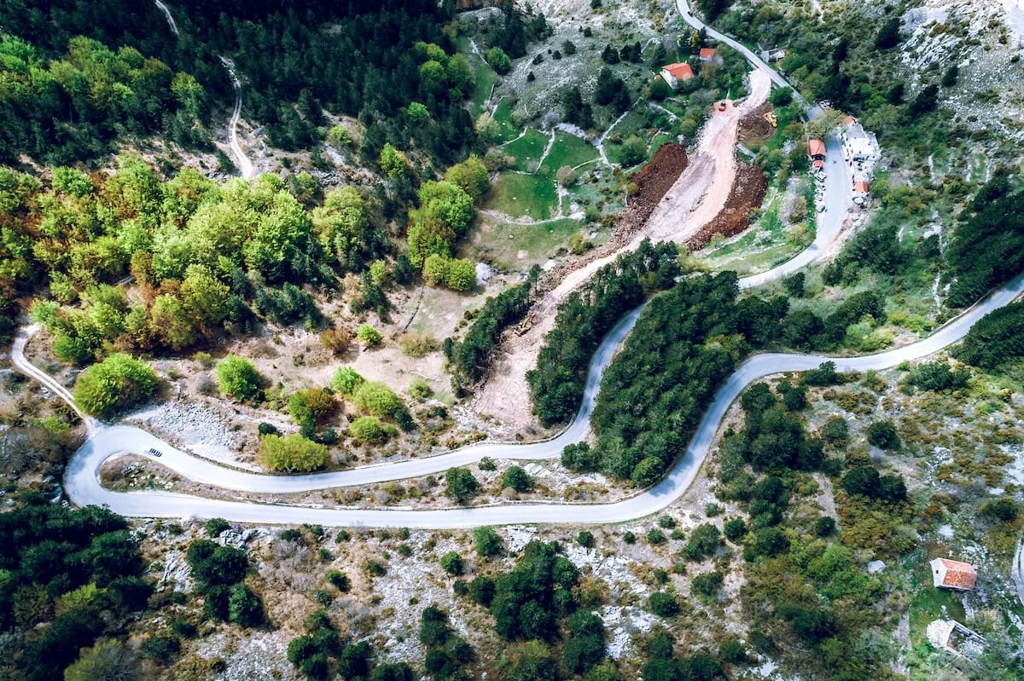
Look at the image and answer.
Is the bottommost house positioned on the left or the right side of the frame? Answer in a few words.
right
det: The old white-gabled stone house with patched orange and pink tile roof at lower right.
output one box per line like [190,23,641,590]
[930,557,976,595]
